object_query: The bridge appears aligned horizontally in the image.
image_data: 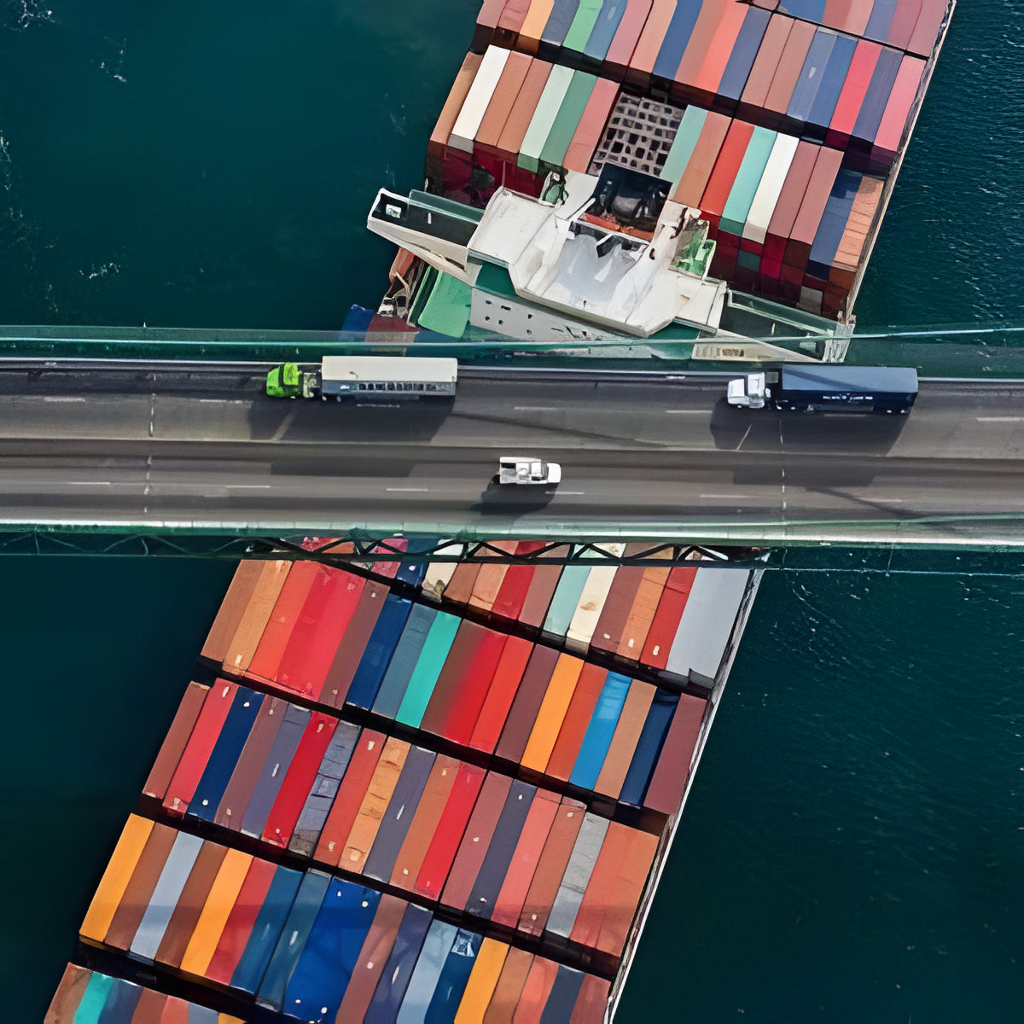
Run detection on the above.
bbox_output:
[0,326,1024,579]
